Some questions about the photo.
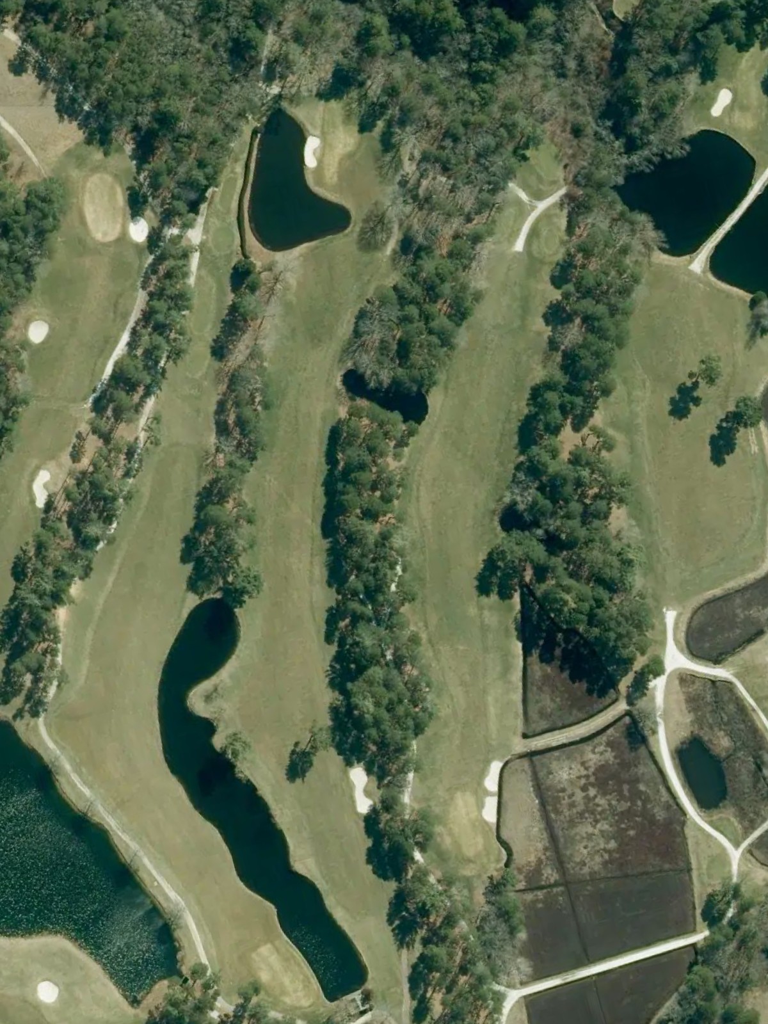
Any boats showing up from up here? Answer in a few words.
No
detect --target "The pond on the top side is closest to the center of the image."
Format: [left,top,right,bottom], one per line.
[343,364,429,424]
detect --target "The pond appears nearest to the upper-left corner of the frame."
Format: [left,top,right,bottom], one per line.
[247,108,351,250]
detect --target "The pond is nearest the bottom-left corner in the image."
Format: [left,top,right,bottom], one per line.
[158,598,369,1002]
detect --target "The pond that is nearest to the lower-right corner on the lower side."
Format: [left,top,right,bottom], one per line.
[679,736,726,809]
